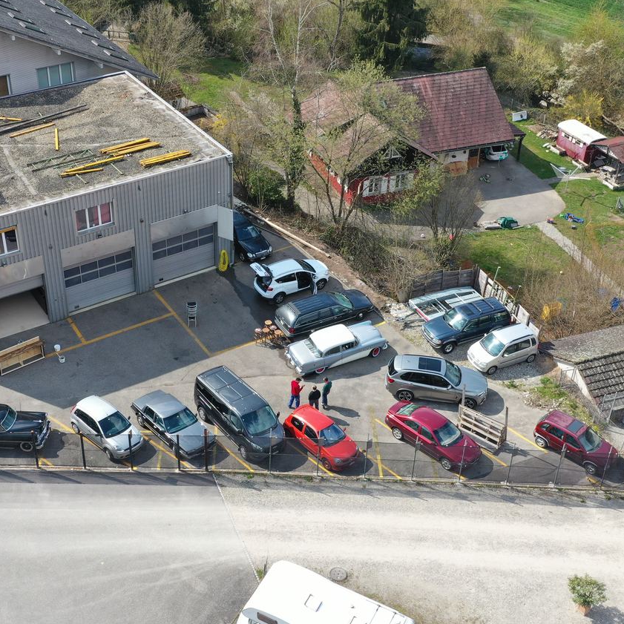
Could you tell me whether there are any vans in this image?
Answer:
Yes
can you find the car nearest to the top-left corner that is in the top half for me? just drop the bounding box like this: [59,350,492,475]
[233,208,271,261]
